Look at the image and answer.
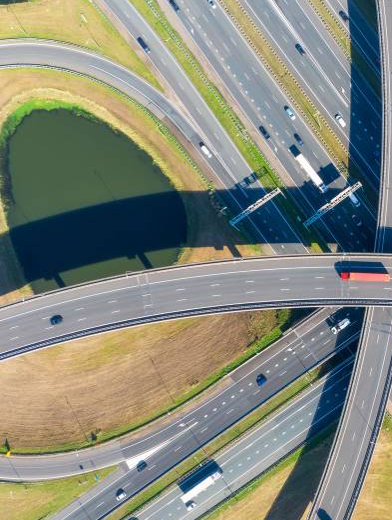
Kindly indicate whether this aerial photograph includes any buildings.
No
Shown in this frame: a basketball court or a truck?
truck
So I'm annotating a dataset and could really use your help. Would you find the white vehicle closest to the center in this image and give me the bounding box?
[200,145,214,160]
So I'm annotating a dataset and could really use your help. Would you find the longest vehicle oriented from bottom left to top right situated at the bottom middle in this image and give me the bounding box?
[180,470,224,506]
